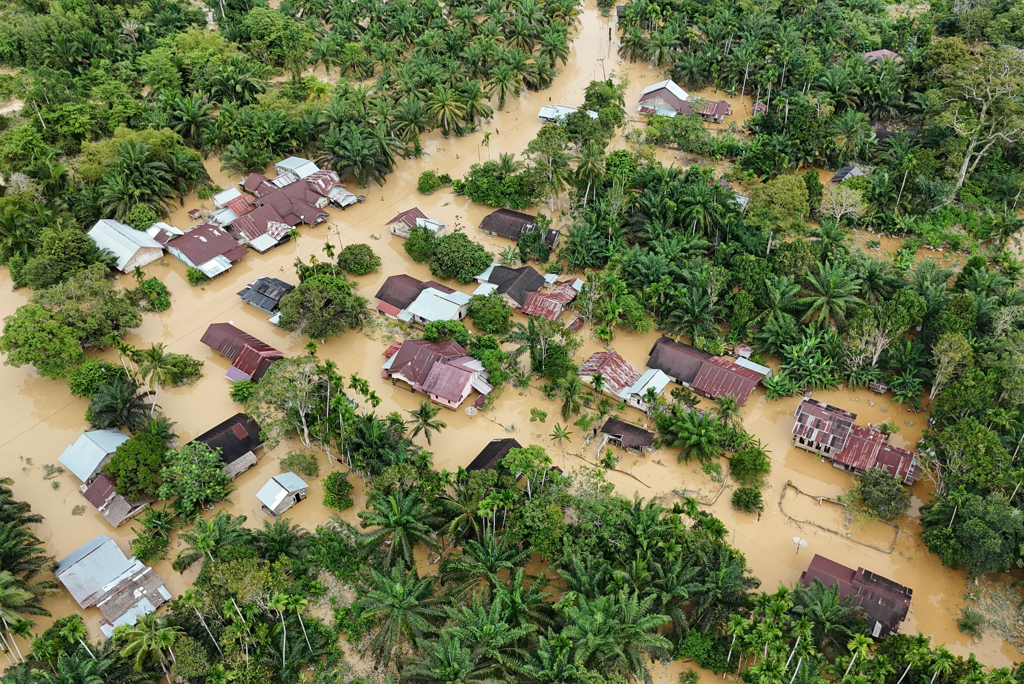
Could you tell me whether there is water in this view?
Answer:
Yes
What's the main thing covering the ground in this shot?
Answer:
trees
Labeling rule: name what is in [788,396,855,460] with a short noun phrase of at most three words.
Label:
house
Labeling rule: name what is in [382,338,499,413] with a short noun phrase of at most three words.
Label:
house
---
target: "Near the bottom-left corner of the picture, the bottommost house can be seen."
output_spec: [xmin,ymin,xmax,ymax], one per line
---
[52,534,164,637]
